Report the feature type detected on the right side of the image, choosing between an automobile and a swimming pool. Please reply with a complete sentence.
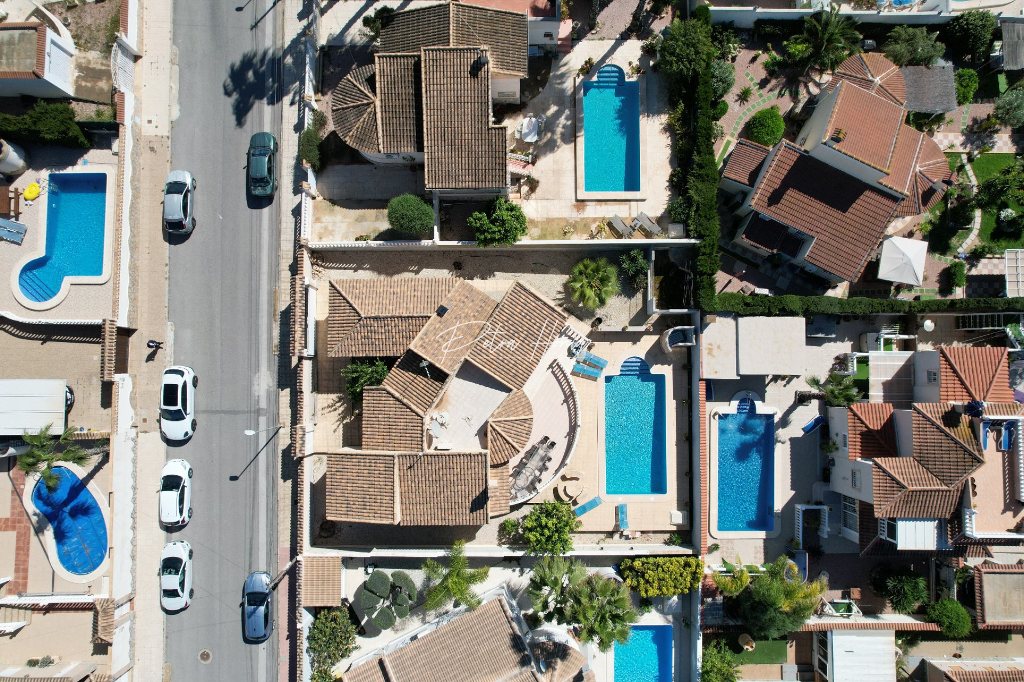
You can see a swimming pool on the right side of the image.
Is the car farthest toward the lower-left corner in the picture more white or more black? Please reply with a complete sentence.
The car farthest toward the lower-left corner is white.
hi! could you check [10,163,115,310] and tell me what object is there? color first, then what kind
blue swimming pool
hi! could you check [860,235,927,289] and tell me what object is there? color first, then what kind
white gazebo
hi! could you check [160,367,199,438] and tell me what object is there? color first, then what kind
white car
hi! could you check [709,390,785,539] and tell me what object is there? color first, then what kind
blue swimming pool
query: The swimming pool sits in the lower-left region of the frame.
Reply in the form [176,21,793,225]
[22,458,109,584]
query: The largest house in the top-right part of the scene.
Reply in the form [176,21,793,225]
[716,50,953,283]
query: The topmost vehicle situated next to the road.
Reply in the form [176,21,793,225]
[246,133,280,197]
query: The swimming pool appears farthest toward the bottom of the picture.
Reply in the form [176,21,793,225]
[608,617,681,682]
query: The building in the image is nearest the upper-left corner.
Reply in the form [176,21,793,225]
[0,22,70,90]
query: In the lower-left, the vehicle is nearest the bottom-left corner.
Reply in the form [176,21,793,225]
[158,540,196,610]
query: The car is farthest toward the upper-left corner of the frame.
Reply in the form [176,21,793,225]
[162,172,198,233]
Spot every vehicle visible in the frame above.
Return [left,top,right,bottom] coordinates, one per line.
[158,459,196,525]
[158,540,196,610]
[160,367,199,438]
[241,570,278,640]
[162,172,198,233]
[246,133,280,197]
